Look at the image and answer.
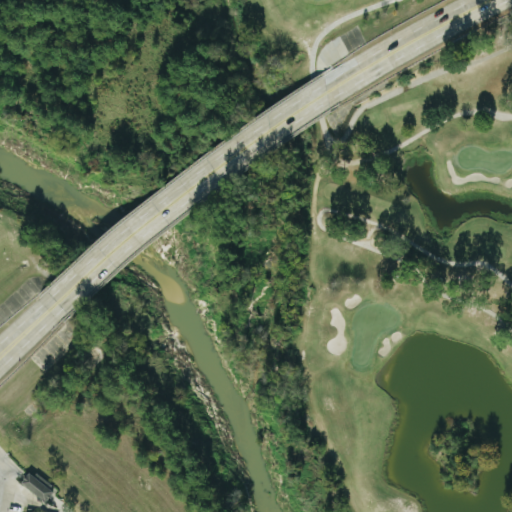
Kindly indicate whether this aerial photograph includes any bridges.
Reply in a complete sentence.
Yes, you can see a bridge in this photo.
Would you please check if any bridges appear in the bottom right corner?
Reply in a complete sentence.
No, there is no bridge in the bottom right corner.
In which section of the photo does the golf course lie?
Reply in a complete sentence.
Look in the bottom right portion of the view to spot the golf course.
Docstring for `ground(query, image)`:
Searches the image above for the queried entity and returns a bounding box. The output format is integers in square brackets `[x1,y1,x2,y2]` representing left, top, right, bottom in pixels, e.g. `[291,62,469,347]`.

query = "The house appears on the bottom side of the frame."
[21,474,52,502]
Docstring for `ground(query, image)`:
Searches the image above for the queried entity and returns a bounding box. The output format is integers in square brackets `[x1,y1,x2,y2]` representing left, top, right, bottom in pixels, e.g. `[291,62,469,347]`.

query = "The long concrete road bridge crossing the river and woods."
[42,77,338,317]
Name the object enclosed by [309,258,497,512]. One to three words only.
golf course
